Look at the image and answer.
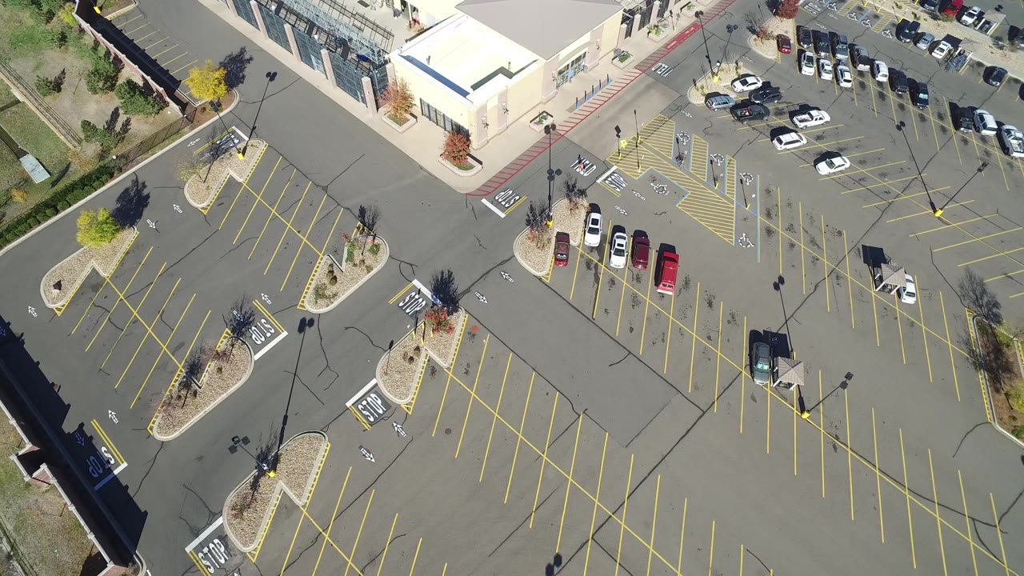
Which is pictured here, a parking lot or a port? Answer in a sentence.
The picture captures a parking lot.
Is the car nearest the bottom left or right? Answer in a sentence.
You can find the car nearest the bottom on the right side of the picture.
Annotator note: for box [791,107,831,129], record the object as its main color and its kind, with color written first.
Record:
white truck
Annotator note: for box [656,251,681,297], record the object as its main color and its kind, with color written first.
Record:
red truck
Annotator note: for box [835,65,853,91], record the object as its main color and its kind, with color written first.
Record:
white car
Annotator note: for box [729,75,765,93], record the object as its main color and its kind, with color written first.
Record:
white car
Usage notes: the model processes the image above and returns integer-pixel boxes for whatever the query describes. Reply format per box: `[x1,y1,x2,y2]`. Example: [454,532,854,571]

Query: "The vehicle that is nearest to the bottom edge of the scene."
[750,340,774,387]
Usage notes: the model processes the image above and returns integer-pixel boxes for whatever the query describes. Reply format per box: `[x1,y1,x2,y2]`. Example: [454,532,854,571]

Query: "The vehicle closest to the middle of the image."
[552,232,571,268]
